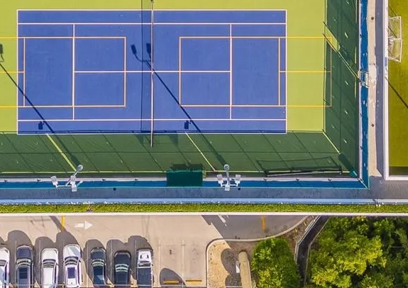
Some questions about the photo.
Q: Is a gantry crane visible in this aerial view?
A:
No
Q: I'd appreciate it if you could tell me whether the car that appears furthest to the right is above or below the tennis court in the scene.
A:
below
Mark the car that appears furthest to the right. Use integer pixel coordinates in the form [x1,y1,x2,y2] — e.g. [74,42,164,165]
[134,245,155,287]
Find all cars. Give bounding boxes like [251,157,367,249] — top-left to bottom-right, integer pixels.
[134,245,155,287]
[88,244,109,287]
[60,241,82,287]
[0,245,11,288]
[111,248,132,288]
[12,245,34,288]
[39,244,60,288]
